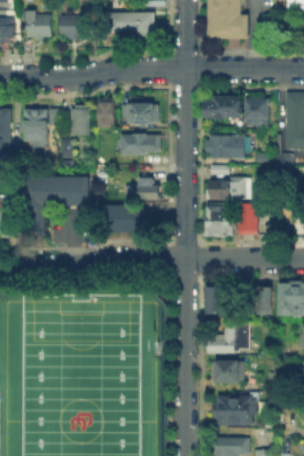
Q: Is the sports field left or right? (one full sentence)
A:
The sports field is on the left side of the image.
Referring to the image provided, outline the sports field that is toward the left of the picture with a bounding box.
[0,293,165,456]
